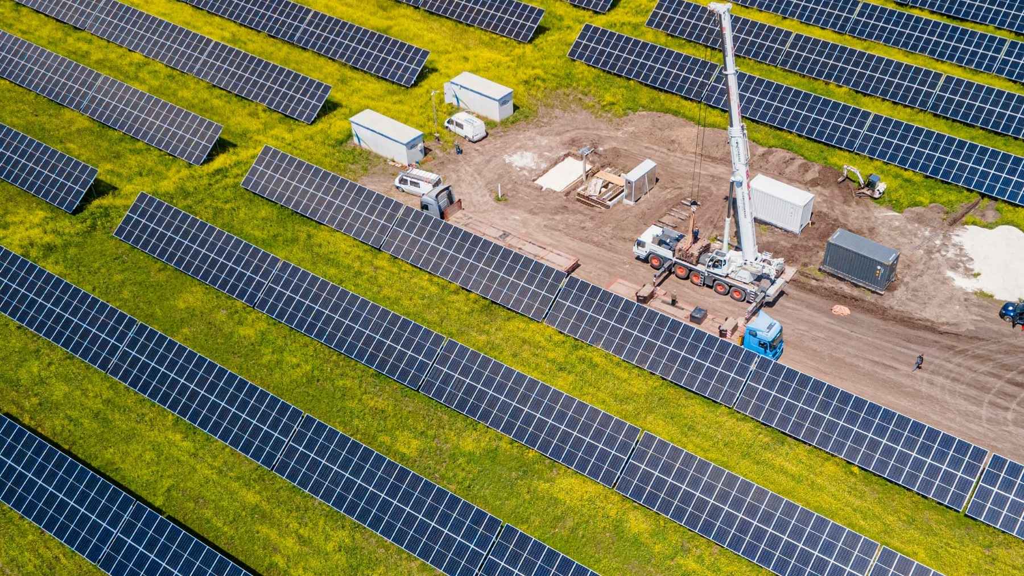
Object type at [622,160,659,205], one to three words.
shed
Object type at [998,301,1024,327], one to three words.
car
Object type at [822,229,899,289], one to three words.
shipping container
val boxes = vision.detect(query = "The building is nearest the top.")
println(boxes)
[443,73,515,121]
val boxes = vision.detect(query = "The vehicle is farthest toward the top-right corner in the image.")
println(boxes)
[840,162,886,205]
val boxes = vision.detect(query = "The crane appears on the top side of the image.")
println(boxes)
[633,4,787,326]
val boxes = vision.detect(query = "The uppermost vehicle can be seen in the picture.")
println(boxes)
[441,108,488,141]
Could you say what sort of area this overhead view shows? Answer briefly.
solar farm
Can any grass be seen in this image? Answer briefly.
Yes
